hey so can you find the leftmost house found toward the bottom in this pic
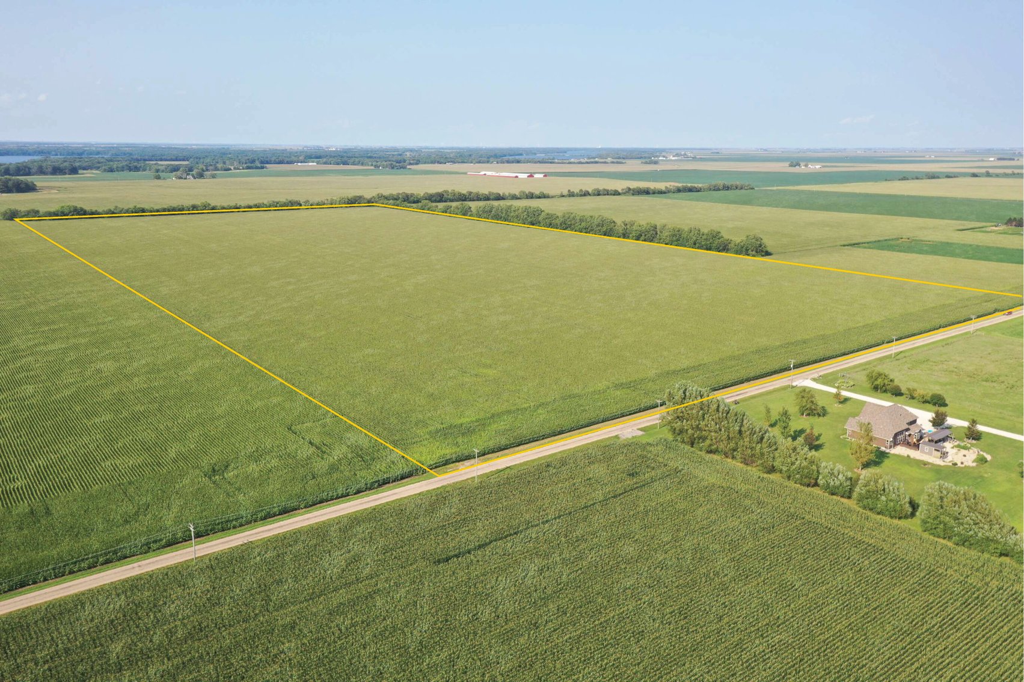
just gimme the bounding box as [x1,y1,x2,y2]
[836,402,927,451]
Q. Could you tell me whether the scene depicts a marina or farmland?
farmland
